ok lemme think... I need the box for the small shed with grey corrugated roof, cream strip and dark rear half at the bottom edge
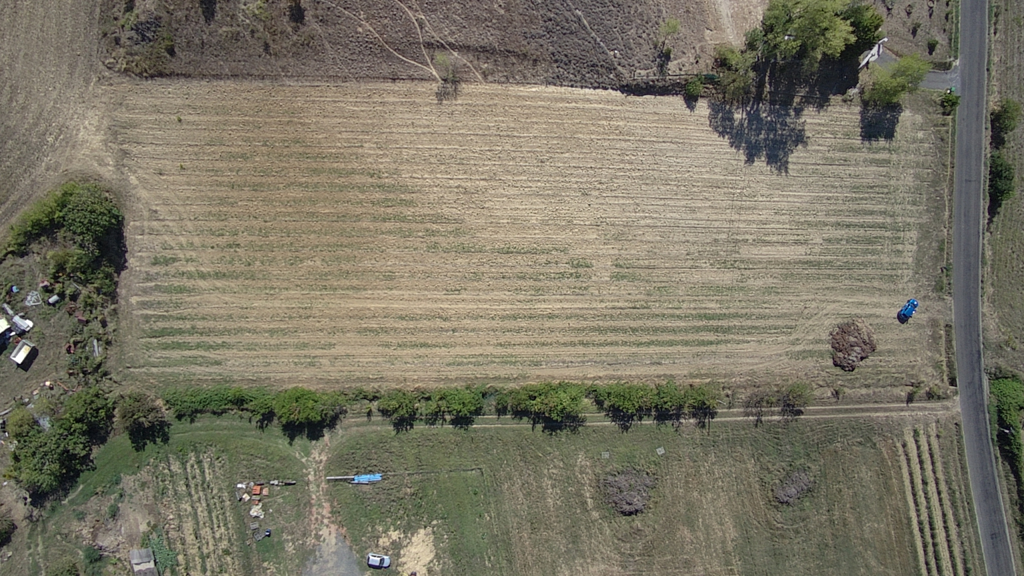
[130,546,160,576]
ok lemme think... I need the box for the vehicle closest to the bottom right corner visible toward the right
[897,298,917,323]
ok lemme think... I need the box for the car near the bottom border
[368,554,391,567]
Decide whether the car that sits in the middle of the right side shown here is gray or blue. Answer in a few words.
blue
